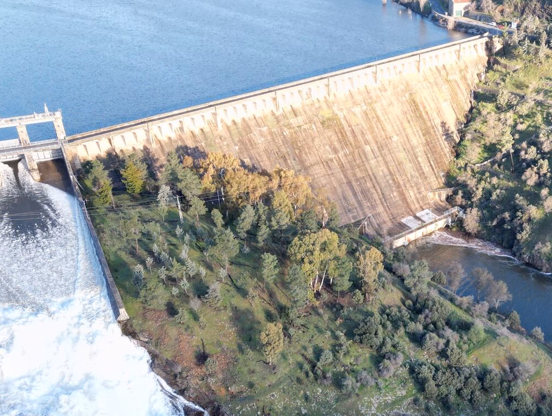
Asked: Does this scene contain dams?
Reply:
Yes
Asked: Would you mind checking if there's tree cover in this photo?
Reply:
Yes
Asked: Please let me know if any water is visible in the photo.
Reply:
Yes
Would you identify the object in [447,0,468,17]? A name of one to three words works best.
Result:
house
